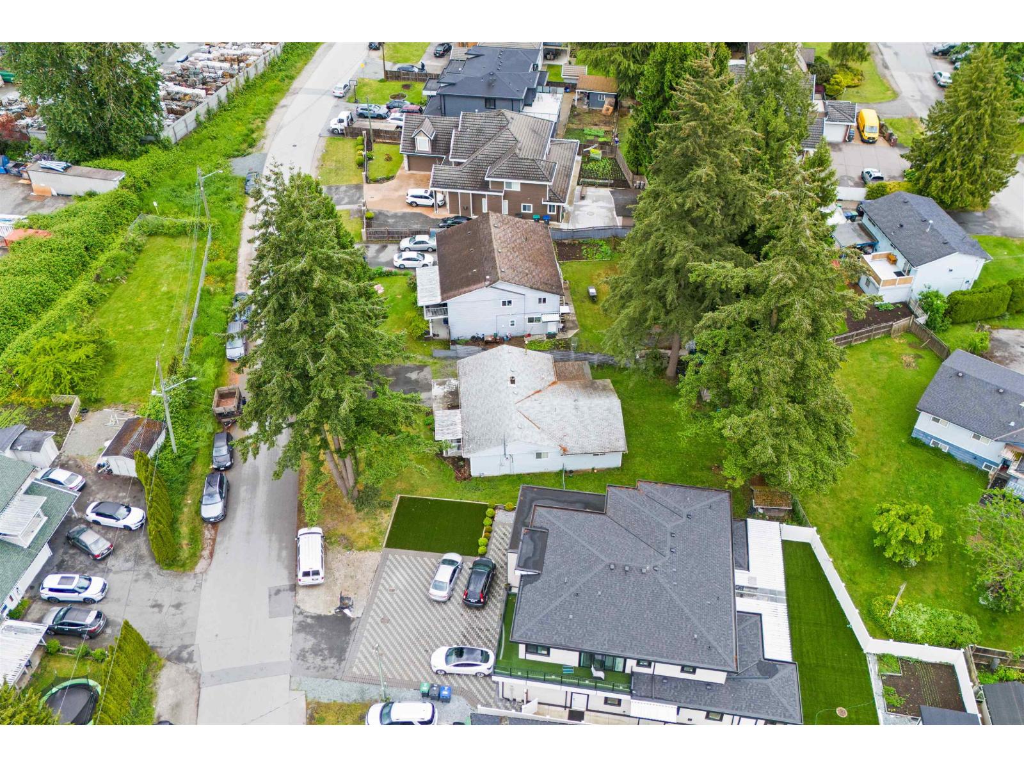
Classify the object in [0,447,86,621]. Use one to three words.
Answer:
house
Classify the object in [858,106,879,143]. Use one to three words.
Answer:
vehicle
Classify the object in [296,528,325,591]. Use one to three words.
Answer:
van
